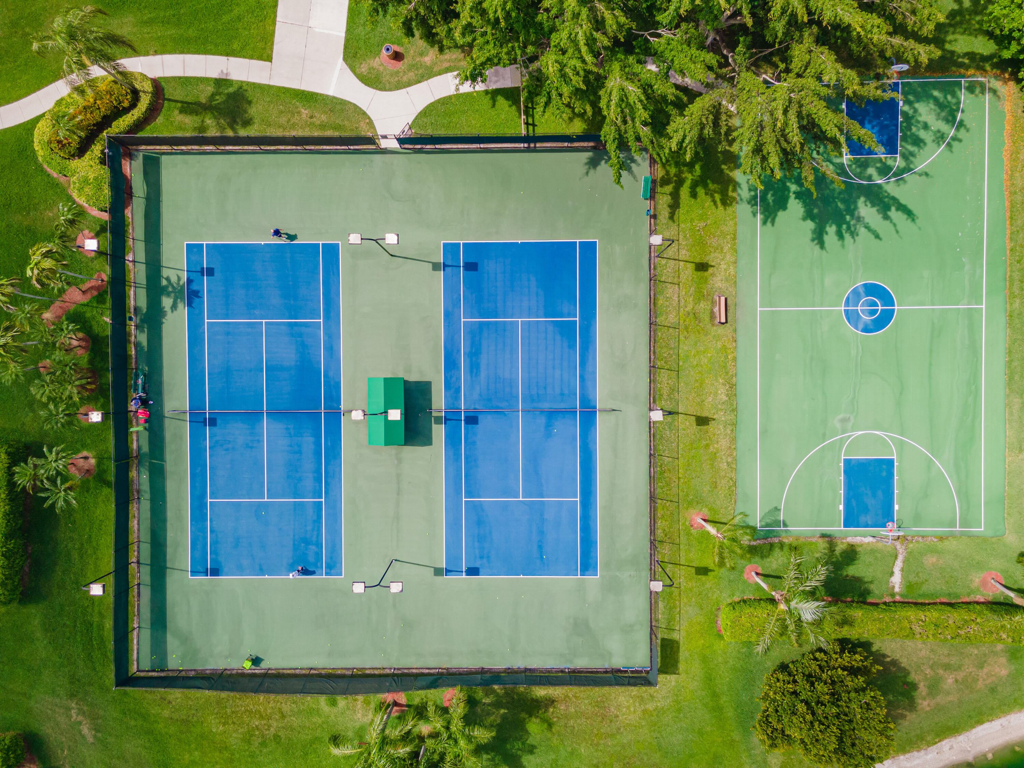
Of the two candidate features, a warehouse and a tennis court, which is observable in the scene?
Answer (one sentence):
This aerial view contains a tennis court.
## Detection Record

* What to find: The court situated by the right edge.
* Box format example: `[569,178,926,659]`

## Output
[734,73,1006,539]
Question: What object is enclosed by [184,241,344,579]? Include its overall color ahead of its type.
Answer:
blue tennis court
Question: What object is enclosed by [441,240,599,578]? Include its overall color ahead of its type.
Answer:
blue tennis court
